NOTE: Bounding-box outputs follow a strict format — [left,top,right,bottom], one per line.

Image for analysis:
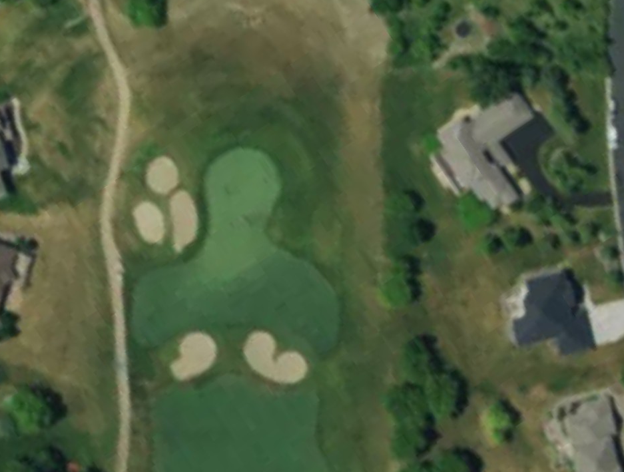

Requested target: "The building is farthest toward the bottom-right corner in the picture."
[564,396,624,472]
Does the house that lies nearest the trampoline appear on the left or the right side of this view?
right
